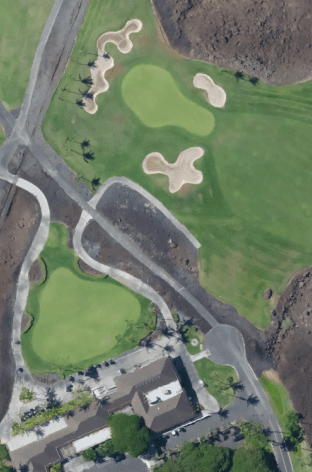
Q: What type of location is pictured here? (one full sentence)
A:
This image shows a golf course.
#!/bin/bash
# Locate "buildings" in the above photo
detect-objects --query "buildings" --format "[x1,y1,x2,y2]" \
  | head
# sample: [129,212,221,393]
[7,358,198,472]
[63,456,95,472]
